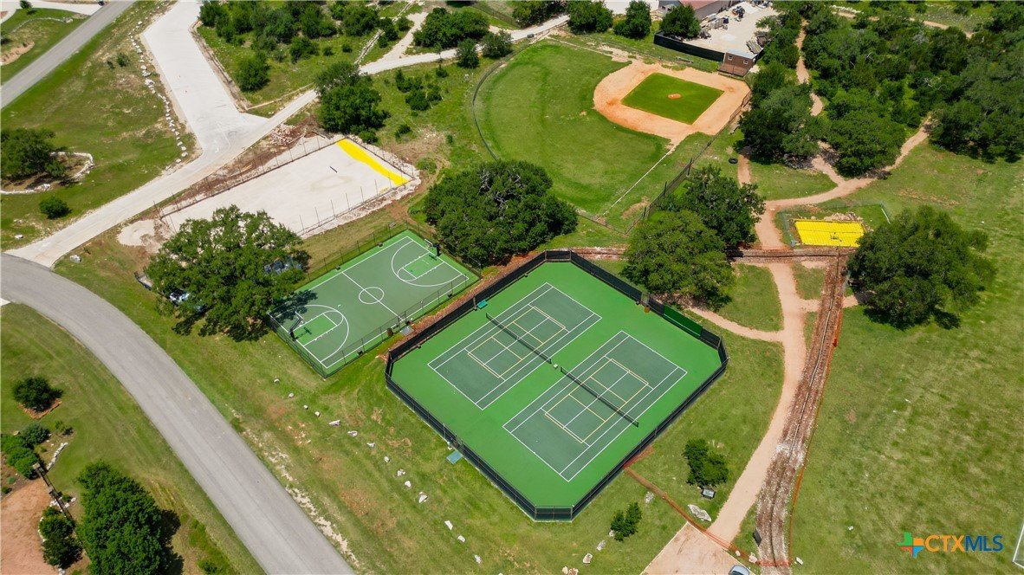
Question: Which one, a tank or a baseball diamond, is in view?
baseball diamond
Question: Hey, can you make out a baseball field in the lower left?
No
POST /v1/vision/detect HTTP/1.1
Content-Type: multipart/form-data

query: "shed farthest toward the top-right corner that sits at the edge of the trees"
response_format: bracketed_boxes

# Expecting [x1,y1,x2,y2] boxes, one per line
[725,43,759,70]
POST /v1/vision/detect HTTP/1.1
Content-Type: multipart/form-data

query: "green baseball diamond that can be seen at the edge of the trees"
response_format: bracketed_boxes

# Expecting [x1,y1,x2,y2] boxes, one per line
[478,38,749,215]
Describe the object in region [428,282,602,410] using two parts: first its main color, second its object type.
green tennis court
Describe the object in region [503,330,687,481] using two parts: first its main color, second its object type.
green tennis court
